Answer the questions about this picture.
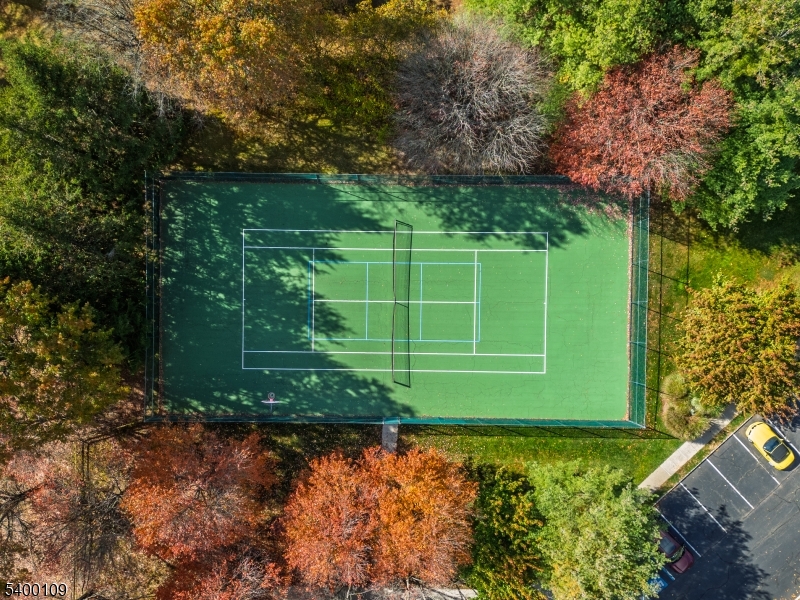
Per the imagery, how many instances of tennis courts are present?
1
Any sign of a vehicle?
Yes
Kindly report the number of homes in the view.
0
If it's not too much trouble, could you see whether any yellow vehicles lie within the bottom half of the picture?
Yes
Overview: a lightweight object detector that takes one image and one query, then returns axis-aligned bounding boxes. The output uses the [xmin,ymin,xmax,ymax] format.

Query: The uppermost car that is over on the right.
[743,420,791,470]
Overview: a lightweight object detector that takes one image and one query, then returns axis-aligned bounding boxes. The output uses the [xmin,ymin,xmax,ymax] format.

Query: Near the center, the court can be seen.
[159,180,634,420]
